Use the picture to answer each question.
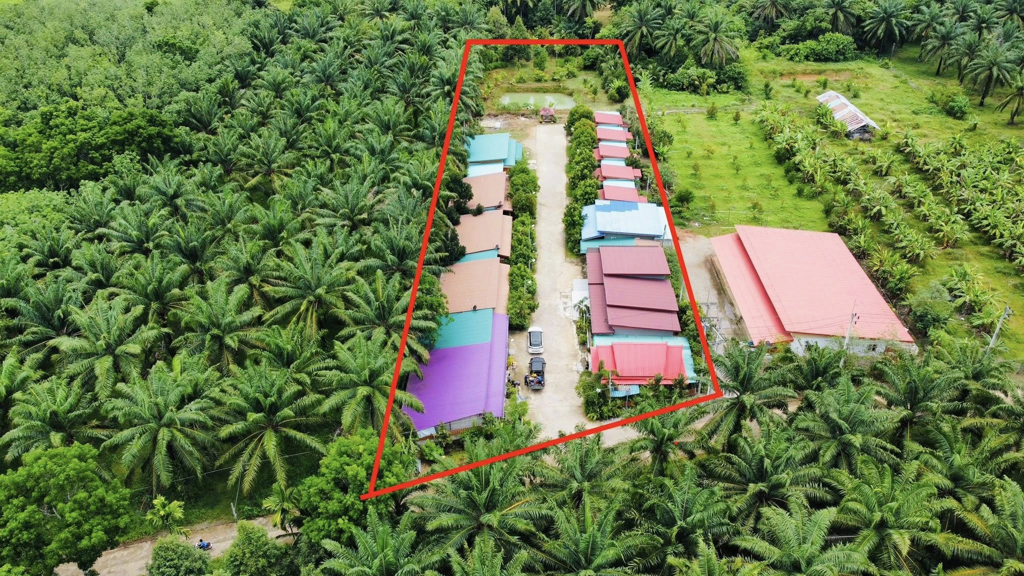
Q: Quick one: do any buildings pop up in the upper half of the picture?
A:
Yes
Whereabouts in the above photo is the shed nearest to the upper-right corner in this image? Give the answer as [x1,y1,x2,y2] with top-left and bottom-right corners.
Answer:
[812,91,876,142]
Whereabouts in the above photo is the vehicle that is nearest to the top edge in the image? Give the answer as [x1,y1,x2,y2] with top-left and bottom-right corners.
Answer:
[527,329,544,356]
